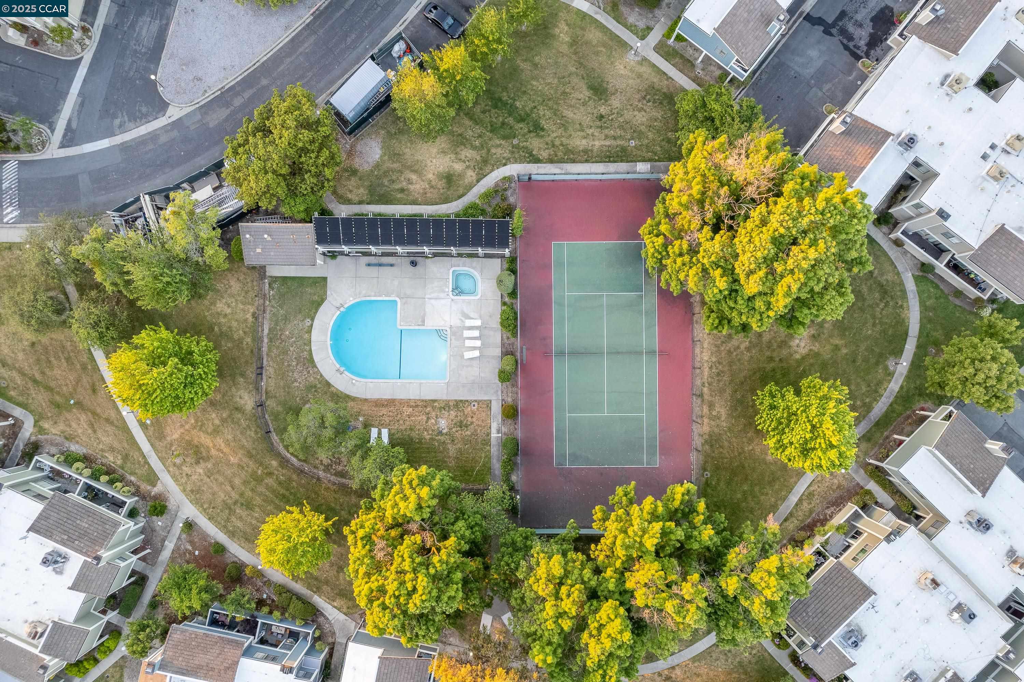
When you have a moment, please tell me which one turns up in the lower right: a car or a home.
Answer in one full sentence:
The one visible in the lower right is a home.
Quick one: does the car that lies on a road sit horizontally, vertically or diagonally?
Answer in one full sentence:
The car that lies on a road is laid out diagonally.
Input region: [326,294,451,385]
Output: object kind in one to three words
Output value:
swimming pool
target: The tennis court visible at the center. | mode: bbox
[518,179,693,529]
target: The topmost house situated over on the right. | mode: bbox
[671,0,807,93]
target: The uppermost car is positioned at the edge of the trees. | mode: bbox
[421,1,466,40]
